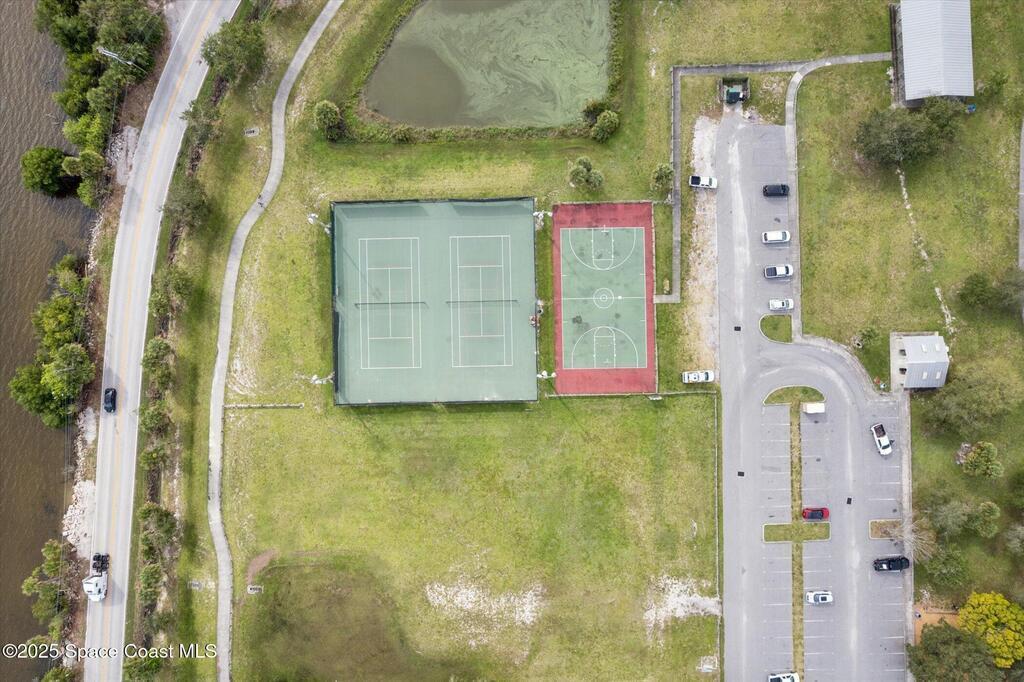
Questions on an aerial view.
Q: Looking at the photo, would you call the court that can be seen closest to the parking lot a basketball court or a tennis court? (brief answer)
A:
basketball court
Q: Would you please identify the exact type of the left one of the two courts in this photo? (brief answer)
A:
tennis court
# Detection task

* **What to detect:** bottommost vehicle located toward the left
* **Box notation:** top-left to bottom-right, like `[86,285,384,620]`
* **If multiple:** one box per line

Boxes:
[81,553,109,599]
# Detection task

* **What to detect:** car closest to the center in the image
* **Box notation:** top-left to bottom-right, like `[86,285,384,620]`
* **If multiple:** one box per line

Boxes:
[683,371,713,384]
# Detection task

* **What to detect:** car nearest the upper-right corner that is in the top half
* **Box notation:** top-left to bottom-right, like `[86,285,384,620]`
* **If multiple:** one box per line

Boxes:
[763,183,790,196]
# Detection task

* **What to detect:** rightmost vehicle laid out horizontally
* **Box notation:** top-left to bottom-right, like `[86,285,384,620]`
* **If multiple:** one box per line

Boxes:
[876,558,908,572]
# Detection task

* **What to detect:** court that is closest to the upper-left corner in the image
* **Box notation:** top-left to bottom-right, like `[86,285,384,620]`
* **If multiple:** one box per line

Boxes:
[336,200,537,403]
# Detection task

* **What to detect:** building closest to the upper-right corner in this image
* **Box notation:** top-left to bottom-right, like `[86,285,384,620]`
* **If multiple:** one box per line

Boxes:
[887,0,974,103]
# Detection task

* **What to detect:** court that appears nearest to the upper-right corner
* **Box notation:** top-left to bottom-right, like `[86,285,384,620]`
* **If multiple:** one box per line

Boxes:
[553,202,657,394]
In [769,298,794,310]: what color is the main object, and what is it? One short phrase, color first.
white vehicle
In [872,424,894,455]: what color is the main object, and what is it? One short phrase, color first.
white truck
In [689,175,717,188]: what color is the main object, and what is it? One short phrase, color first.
white vehicle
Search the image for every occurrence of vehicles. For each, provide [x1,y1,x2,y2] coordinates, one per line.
[806,592,834,605]
[762,230,790,243]
[876,558,908,572]
[81,553,109,599]
[803,508,830,521]
[769,673,799,682]
[769,298,794,310]
[689,175,717,188]
[872,424,894,455]
[100,387,116,412]
[763,183,790,196]
[764,265,794,277]
[683,371,713,384]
